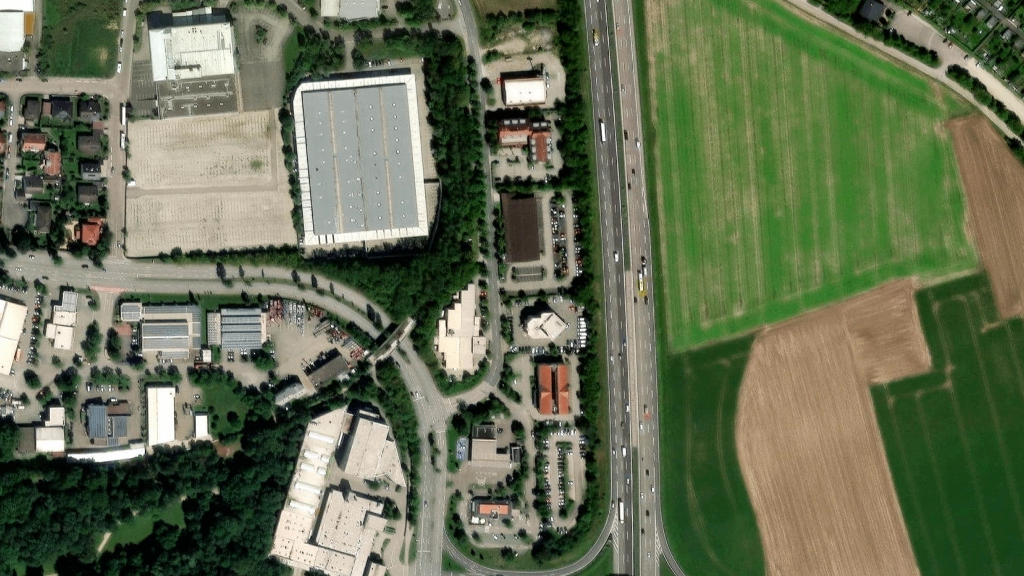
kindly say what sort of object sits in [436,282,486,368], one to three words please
building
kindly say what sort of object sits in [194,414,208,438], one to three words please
shed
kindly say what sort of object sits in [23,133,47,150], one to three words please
house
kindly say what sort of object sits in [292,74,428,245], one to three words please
warehouse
